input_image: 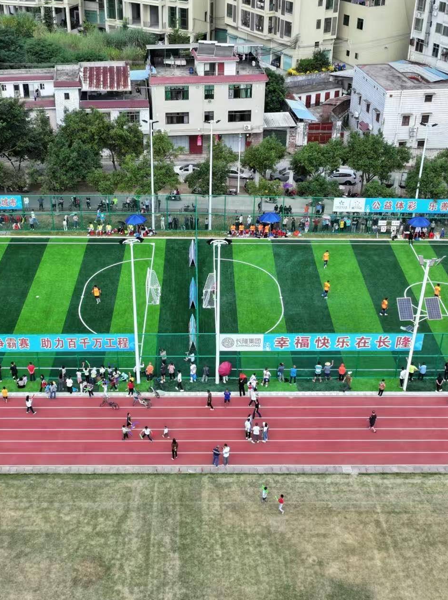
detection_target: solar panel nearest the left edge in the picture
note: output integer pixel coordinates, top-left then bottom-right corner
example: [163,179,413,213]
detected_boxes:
[395,297,412,321]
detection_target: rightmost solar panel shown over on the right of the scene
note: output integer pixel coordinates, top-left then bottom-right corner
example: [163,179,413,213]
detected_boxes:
[425,297,443,321]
